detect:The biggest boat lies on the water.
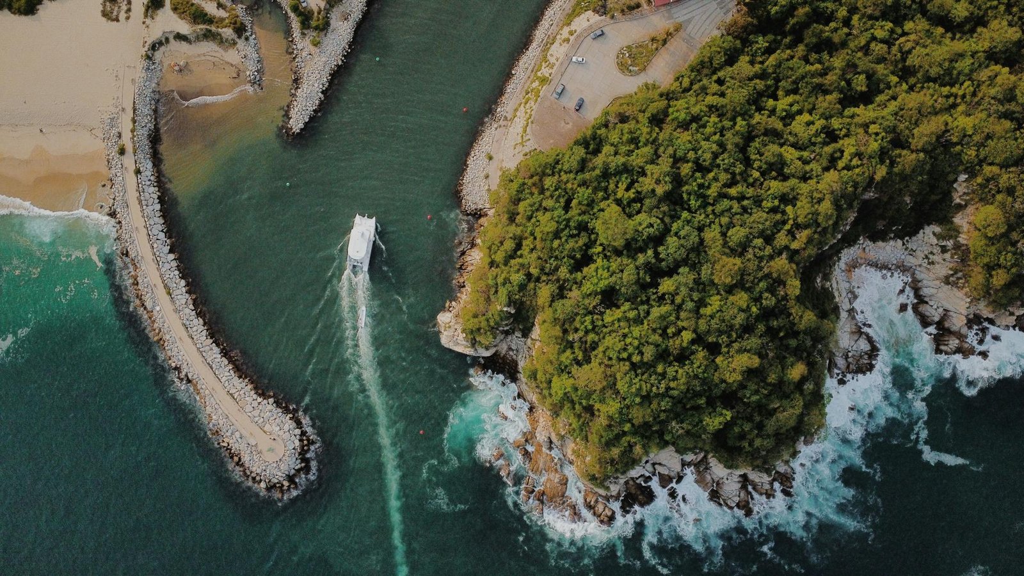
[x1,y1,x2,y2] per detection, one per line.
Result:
[348,214,373,272]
